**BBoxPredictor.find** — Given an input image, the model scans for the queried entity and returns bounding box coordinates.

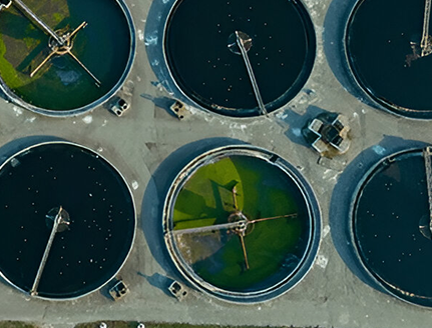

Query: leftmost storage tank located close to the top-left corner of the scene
[0,0,136,117]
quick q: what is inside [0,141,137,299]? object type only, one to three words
storage tank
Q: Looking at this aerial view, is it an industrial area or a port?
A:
industrial area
